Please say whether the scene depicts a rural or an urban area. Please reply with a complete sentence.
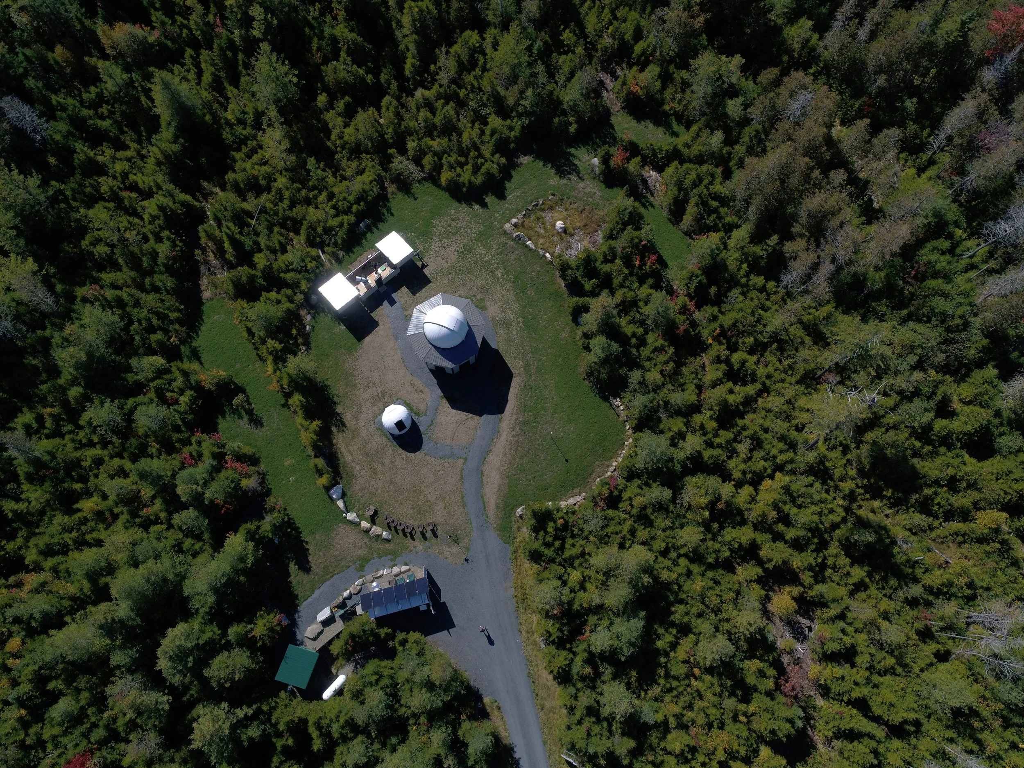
It looks rural.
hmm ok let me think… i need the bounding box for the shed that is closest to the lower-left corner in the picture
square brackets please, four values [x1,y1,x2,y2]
[276,643,322,689]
